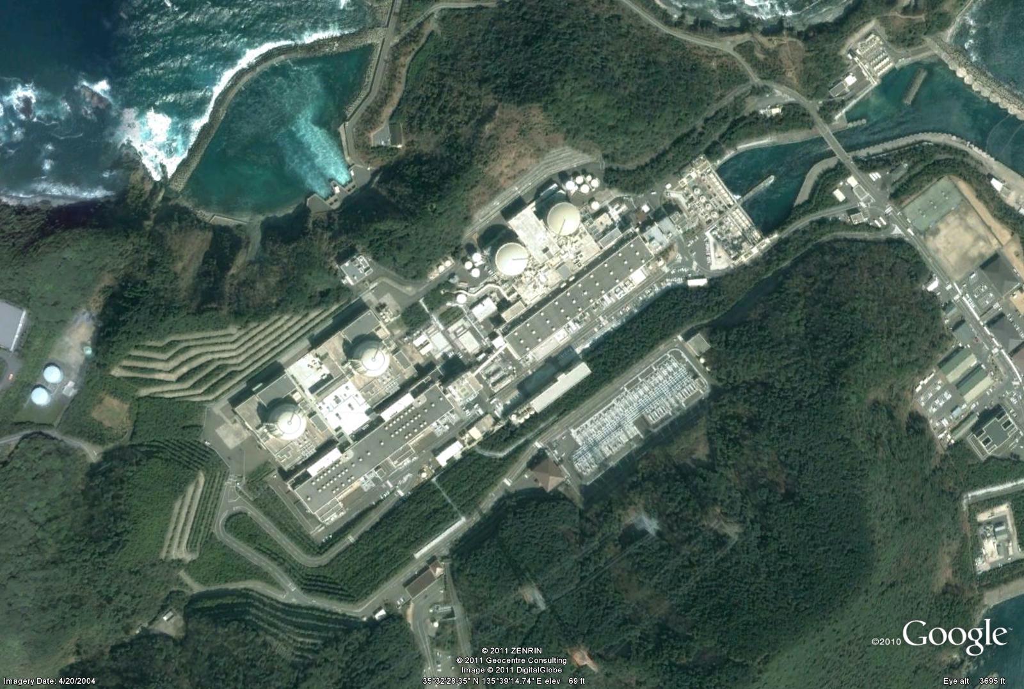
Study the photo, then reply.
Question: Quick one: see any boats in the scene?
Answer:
No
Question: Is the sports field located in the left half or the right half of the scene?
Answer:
right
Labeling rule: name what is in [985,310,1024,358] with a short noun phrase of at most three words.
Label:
building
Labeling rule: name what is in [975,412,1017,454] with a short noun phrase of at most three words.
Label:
building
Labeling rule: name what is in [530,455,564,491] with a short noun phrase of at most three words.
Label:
house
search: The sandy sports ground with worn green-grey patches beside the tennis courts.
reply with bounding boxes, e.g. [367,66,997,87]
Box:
[925,200,1000,280]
